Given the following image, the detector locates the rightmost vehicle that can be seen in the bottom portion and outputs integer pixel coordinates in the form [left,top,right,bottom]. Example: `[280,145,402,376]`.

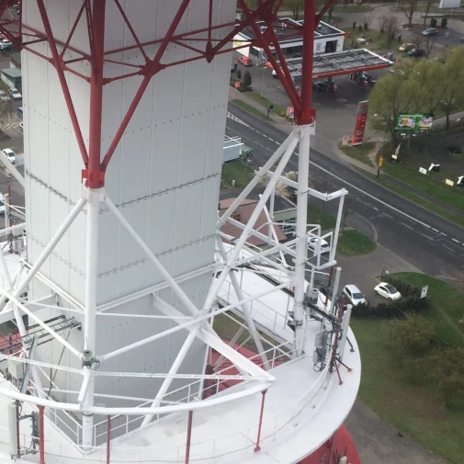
[371,280,403,300]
